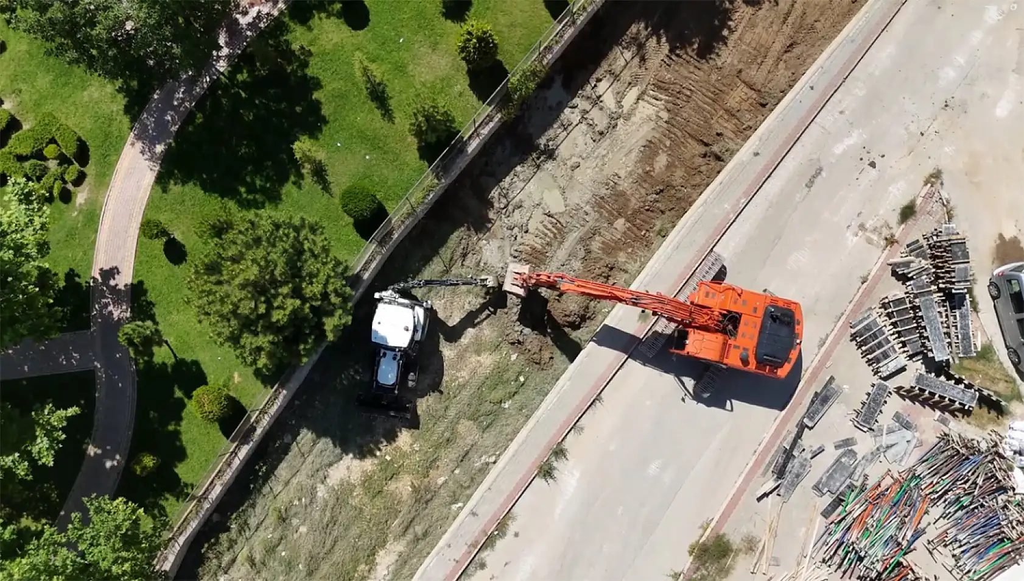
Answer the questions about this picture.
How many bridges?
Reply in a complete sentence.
No bridges are visible.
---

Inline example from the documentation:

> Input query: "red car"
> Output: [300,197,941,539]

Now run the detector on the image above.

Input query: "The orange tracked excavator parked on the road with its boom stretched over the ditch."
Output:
[507,253,802,399]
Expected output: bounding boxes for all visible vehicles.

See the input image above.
[507,253,802,399]
[360,275,499,412]
[985,259,1024,370]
